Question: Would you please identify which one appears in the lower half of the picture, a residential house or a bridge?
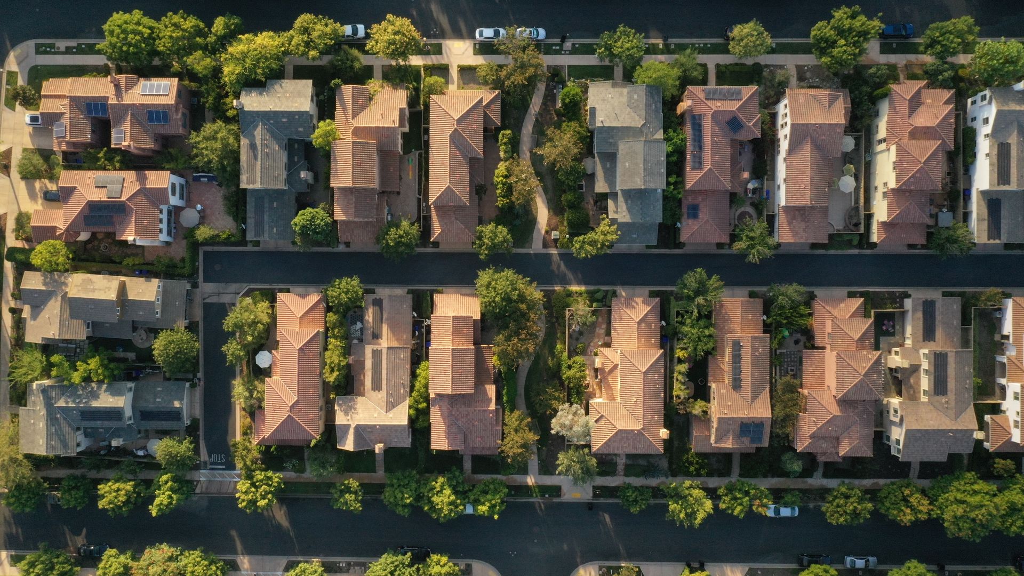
residential house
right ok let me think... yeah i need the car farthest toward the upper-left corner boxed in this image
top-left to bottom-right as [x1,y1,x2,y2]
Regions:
[24,112,38,128]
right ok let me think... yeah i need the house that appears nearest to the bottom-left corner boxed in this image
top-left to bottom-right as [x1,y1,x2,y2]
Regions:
[19,374,195,457]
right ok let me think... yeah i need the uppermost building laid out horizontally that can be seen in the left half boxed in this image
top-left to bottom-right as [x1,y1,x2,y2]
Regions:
[34,73,196,153]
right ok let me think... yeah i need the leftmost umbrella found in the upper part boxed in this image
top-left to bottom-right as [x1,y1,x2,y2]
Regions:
[181,207,201,227]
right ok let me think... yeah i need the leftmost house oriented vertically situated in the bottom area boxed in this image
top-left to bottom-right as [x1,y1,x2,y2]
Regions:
[254,293,327,446]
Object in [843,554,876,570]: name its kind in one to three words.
car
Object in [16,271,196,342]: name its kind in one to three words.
house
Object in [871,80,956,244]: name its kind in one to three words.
house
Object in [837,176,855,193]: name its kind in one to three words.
umbrella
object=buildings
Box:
[429,89,501,243]
[668,85,762,244]
[774,87,853,244]
[34,73,196,153]
[962,81,1024,244]
[333,294,414,453]
[428,294,502,455]
[587,298,669,455]
[26,169,185,246]
[882,298,985,458]
[691,298,776,453]
[871,80,956,244]
[19,374,195,457]
[254,293,327,446]
[793,298,883,462]
[330,82,411,243]
[587,81,667,244]
[234,80,321,240]
[16,271,196,342]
